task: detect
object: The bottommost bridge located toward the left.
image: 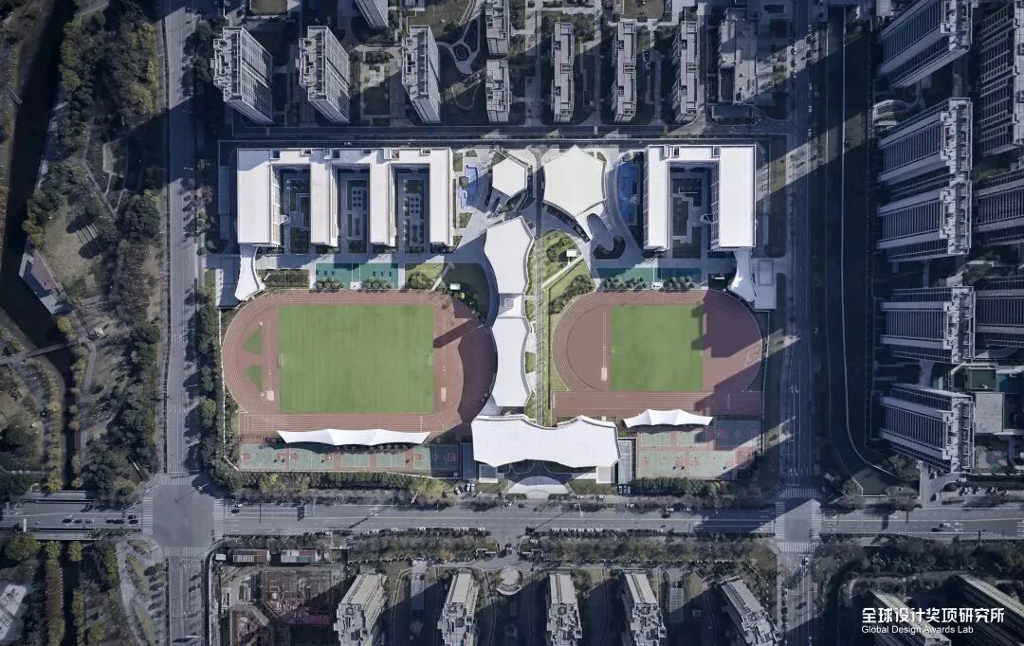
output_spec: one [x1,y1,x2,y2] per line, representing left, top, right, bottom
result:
[36,491,91,540]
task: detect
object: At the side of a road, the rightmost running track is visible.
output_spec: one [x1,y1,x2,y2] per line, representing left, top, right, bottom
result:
[551,289,763,420]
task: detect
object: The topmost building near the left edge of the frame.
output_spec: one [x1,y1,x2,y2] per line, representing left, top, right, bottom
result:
[19,248,75,314]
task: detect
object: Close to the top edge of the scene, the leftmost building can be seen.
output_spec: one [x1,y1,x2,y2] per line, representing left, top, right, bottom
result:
[213,25,274,124]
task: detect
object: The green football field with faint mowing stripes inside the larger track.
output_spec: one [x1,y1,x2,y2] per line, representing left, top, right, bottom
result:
[280,305,433,414]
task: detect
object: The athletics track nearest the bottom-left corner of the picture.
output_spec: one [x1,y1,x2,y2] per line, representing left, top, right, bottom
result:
[221,288,496,444]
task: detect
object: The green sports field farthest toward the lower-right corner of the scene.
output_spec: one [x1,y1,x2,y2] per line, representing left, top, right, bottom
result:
[610,305,702,390]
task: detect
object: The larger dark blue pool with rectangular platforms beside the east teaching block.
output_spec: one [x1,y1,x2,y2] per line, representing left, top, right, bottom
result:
[613,159,642,227]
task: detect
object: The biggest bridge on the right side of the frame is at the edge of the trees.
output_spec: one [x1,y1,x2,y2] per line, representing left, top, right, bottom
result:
[853,496,908,544]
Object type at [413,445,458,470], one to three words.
basketball court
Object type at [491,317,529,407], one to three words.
building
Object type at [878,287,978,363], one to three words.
building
